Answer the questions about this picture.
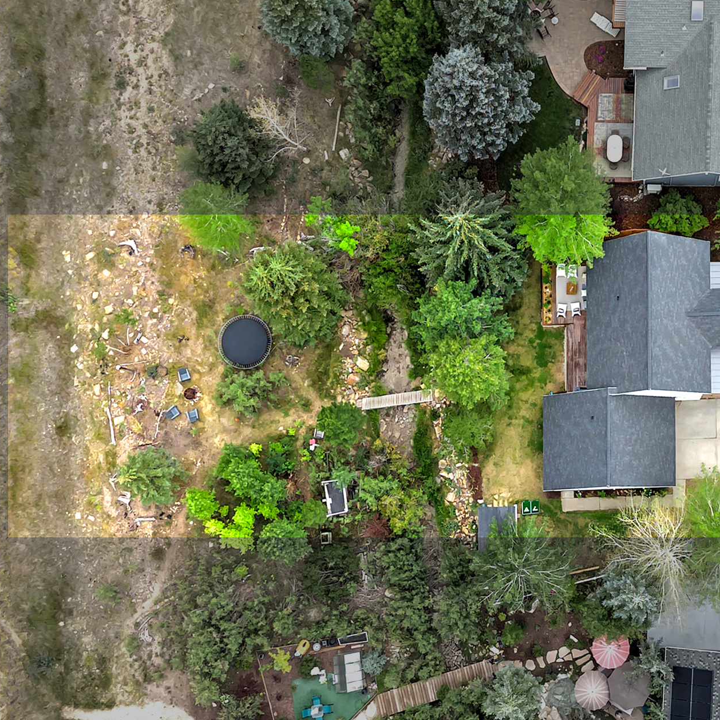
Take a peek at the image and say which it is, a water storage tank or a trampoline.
trampoline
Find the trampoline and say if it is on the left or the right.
left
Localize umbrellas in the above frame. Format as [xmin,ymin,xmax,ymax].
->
[592,631,630,667]
[575,673,610,709]
[607,662,652,706]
